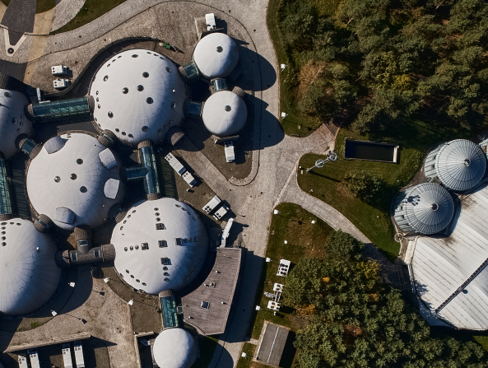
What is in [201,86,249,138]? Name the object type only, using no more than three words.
building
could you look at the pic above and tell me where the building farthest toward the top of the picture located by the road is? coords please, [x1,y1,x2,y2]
[193,31,241,78]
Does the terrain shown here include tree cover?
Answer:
Yes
